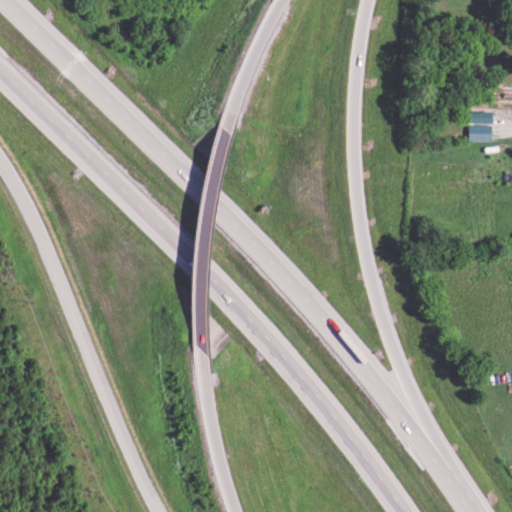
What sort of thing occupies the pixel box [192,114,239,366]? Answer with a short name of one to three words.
overpass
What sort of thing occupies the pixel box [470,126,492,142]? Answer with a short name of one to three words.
shed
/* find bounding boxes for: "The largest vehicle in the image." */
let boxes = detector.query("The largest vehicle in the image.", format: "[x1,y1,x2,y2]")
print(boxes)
[326,318,368,364]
